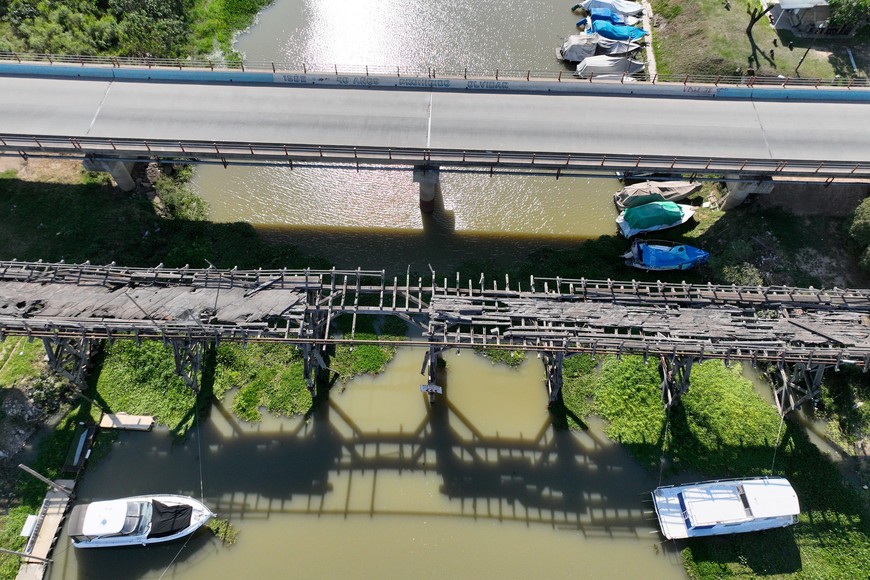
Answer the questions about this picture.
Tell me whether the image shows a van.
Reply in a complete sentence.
No, this view has no van in it.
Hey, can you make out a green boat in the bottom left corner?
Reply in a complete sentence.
No, no green boat appears in the bottom left corner.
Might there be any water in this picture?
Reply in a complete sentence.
Yes, some water is visible.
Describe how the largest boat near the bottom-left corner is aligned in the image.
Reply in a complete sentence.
I'd say the largest boat near the bottom-left corner is aligned from side to side in the picture.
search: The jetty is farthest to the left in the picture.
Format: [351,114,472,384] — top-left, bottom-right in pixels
[23,463,82,580]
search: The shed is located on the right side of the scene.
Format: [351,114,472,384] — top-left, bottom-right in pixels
[753,0,851,52]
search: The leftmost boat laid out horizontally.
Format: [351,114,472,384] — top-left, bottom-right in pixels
[67,494,214,548]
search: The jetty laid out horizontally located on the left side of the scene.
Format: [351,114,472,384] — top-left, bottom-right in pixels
[99,412,155,428]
